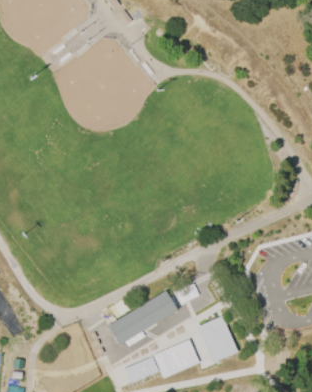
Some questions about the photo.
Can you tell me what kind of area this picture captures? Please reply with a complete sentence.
This image shows a sports ground.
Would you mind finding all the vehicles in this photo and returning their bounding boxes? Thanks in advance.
[303,238,312,246]
[298,262,308,274]
[297,239,307,248]
[258,248,268,257]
